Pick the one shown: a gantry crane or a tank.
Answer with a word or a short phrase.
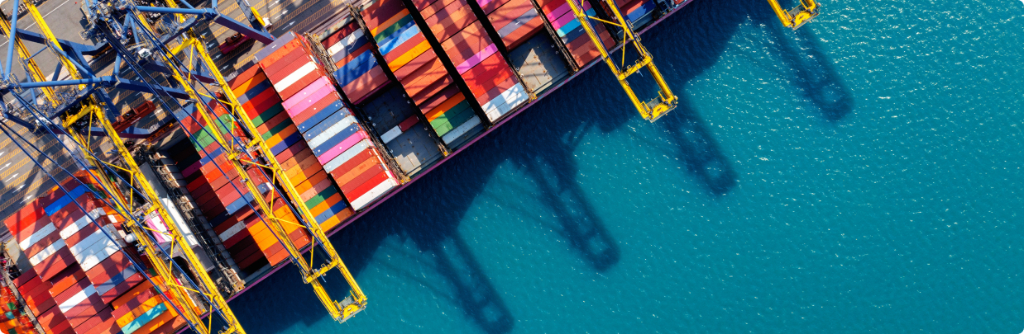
gantry crane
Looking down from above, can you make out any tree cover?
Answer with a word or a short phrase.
No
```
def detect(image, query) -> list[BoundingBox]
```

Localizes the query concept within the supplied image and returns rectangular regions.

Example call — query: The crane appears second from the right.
[562,0,683,125]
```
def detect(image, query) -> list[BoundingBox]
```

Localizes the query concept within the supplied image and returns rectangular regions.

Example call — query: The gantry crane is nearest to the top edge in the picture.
[766,0,824,37]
